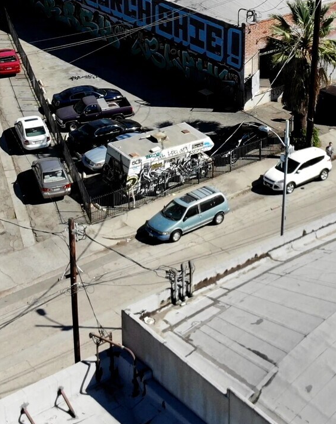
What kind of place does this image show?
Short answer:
industrial area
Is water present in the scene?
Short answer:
No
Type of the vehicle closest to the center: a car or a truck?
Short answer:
car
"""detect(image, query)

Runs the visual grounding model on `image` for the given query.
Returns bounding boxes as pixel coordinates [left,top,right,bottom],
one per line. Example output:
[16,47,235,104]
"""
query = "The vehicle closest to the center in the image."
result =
[146,183,231,240]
